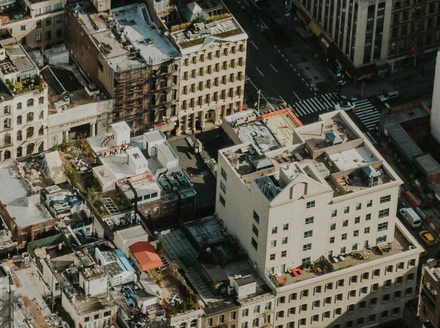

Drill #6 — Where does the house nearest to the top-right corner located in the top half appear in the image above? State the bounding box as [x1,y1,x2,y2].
[388,0,440,71]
